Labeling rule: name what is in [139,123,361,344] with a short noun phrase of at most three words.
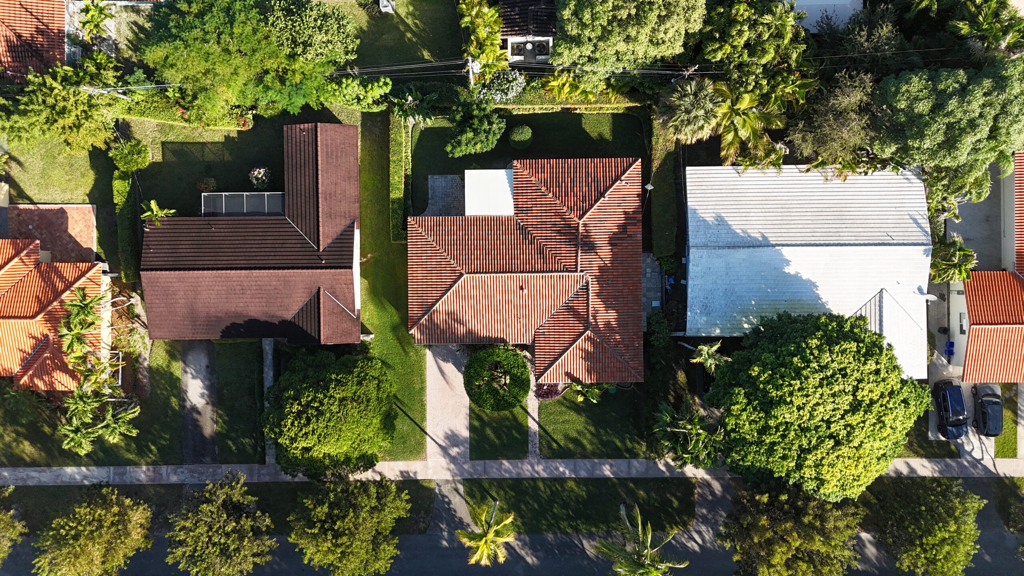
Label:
house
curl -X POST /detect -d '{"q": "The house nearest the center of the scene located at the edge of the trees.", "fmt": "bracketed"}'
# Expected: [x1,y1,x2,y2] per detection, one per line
[407,157,645,383]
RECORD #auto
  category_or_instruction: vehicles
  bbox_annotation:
[975,383,1007,435]
[938,379,974,437]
